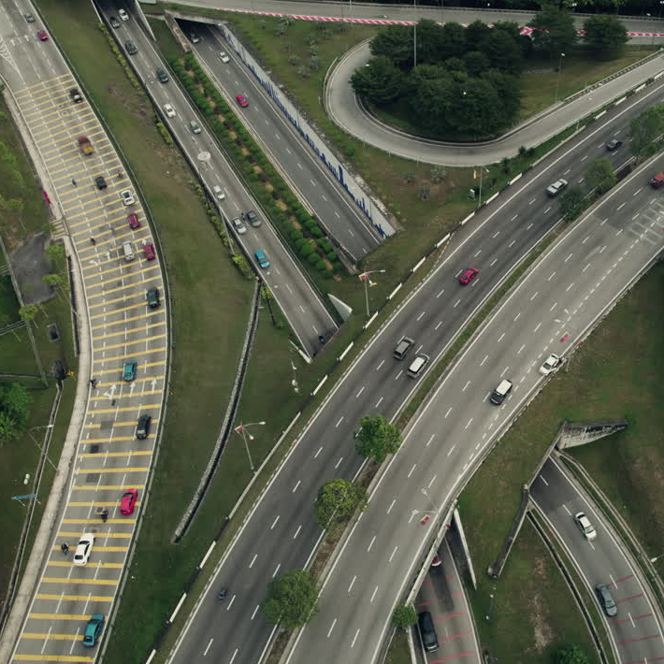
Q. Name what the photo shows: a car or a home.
car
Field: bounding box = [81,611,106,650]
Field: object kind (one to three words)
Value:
car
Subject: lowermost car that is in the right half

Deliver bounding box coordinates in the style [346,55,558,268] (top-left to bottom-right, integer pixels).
[419,614,438,651]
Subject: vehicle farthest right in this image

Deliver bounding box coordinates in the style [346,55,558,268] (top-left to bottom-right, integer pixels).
[646,170,664,189]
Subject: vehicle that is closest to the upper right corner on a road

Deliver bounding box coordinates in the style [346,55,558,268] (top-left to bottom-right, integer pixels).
[603,136,625,153]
